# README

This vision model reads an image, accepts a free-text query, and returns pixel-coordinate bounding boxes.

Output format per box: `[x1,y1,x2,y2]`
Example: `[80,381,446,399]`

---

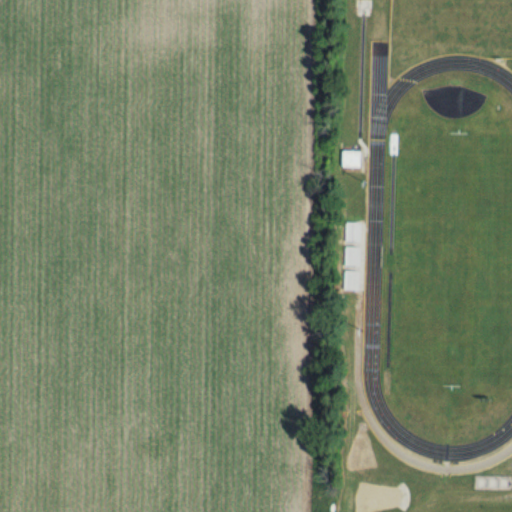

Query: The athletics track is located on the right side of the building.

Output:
[365,41,512,460]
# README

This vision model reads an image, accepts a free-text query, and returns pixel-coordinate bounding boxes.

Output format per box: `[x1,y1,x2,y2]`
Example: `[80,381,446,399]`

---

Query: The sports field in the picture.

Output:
[380,71,512,446]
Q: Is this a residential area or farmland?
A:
farmland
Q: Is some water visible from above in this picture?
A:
No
